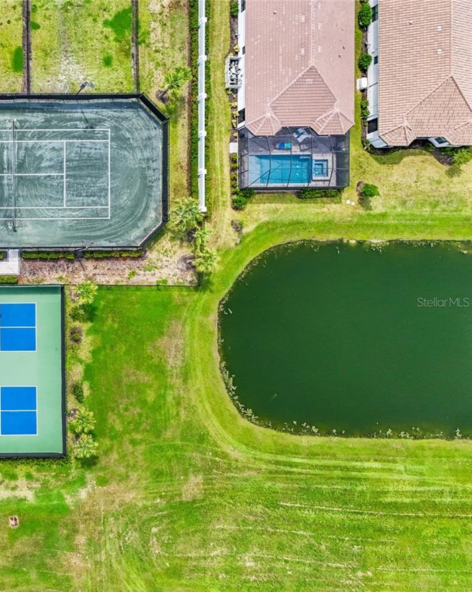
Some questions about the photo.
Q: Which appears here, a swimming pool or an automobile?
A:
swimming pool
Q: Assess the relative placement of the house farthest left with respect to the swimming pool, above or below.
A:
above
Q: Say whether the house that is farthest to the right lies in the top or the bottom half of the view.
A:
top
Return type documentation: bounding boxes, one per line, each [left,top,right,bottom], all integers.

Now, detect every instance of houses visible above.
[238,0,355,136]
[367,0,472,147]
